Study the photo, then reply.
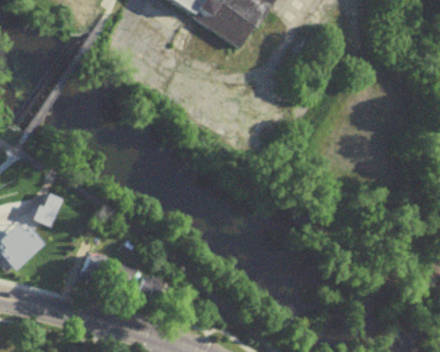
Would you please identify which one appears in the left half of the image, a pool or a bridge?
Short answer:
bridge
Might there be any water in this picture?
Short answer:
Yes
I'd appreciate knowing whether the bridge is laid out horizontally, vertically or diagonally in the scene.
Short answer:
diagonally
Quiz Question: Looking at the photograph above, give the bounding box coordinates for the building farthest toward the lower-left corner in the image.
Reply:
[78,252,110,278]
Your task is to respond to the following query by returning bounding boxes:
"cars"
[0,292,10,298]
[123,241,134,250]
